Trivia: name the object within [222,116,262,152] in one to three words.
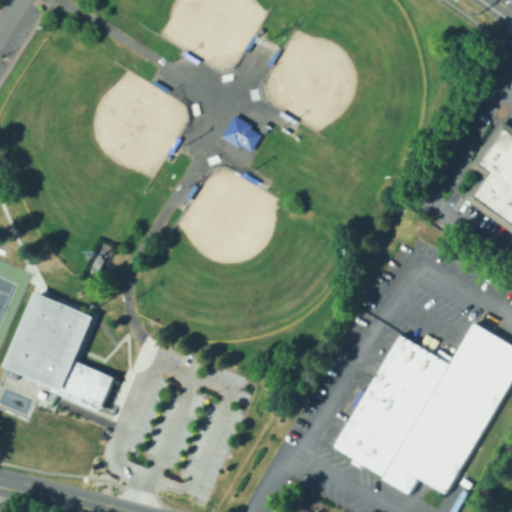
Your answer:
building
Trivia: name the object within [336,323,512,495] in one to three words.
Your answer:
building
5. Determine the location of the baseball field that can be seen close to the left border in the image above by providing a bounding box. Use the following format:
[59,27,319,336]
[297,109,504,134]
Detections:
[0,36,190,272]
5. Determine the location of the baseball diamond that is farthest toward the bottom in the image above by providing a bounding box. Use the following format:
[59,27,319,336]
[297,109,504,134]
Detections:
[140,166,340,344]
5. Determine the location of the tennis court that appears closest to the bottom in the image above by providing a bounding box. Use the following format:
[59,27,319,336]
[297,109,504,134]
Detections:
[0,262,30,350]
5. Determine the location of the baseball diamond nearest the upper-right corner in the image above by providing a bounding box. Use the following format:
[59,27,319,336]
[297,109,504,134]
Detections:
[265,30,358,134]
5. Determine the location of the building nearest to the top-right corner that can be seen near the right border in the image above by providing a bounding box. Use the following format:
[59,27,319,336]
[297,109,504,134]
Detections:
[474,132,512,224]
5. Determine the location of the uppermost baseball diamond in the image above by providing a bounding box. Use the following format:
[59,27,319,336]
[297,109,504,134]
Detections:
[159,0,270,70]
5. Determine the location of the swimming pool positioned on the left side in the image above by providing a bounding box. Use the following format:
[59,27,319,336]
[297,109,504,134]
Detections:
[1,389,32,414]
